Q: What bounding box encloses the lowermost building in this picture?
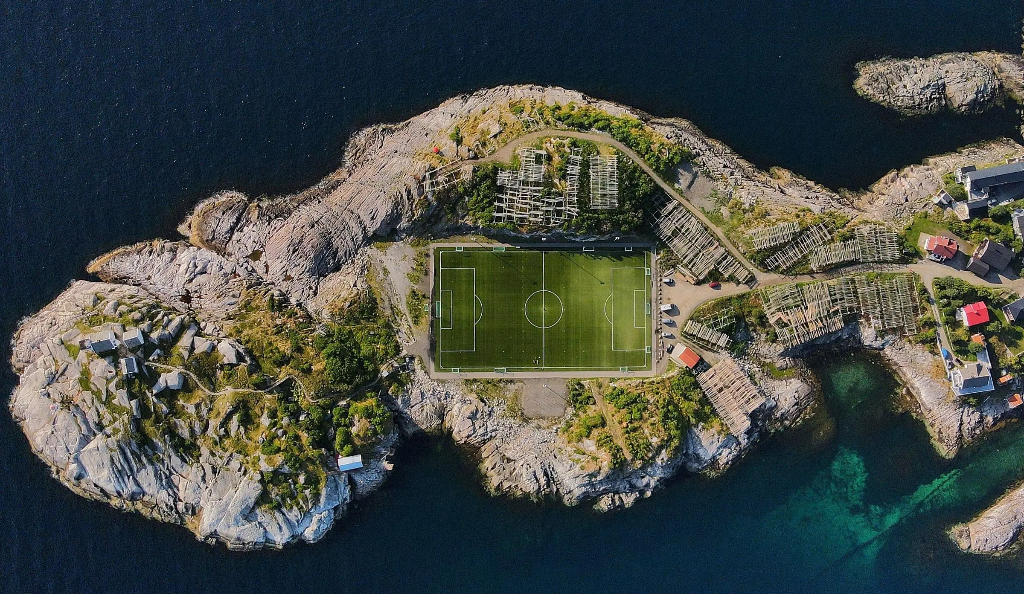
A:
[335,453,365,473]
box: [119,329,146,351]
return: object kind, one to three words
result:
house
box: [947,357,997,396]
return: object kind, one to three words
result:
house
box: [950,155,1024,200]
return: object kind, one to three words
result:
building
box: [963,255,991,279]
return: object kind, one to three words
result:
building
